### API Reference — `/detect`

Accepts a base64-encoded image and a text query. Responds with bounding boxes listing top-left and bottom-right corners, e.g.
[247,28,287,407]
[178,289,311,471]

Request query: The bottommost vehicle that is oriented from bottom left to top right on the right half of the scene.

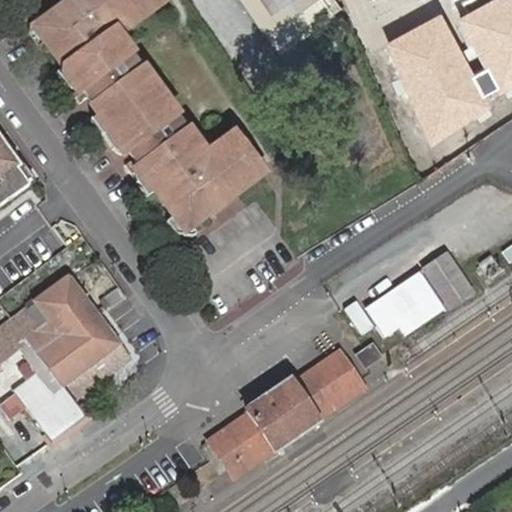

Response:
[366,278,391,298]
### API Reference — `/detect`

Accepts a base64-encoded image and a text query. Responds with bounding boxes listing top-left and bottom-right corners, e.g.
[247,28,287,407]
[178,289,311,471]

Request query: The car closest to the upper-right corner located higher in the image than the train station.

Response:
[354,216,376,234]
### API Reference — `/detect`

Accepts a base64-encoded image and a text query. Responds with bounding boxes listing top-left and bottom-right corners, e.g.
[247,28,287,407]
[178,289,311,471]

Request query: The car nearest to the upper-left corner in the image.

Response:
[6,44,26,61]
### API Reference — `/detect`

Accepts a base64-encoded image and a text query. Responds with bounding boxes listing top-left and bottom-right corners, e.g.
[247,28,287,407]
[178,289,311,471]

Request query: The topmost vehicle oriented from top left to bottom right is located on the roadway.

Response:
[6,108,22,128]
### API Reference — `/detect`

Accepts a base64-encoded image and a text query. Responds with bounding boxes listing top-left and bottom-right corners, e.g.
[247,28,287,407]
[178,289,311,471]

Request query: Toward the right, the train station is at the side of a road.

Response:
[186,292,512,512]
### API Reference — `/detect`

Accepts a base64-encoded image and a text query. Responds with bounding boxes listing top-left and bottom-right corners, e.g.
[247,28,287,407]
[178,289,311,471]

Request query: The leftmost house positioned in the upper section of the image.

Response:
[0,132,34,204]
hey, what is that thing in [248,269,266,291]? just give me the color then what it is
white car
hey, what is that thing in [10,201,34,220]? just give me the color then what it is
white vehicle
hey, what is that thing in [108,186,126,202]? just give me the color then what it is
white car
